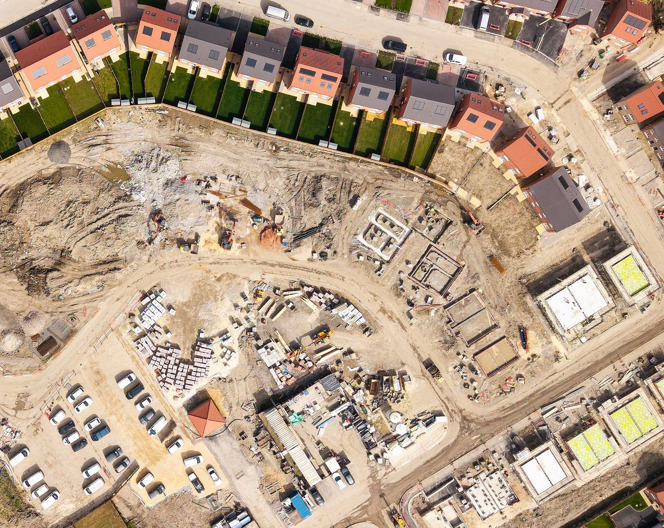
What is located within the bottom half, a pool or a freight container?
freight container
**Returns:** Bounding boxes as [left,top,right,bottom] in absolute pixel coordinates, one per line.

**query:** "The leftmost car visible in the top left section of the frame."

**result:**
[9,35,21,51]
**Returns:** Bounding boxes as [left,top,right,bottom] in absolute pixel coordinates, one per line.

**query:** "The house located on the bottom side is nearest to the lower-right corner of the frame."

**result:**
[642,472,664,517]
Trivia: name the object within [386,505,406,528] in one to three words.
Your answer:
work vehicle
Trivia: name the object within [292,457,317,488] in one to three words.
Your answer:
shipping container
